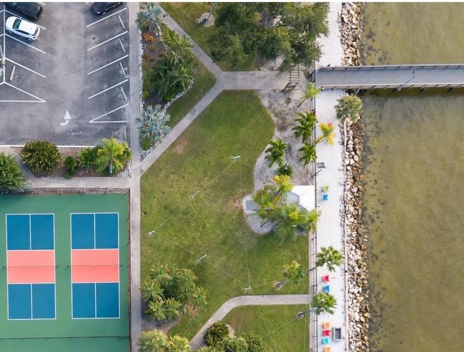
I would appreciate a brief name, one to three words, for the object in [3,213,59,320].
sports court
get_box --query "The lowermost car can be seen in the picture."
[5,14,40,39]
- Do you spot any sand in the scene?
Yes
